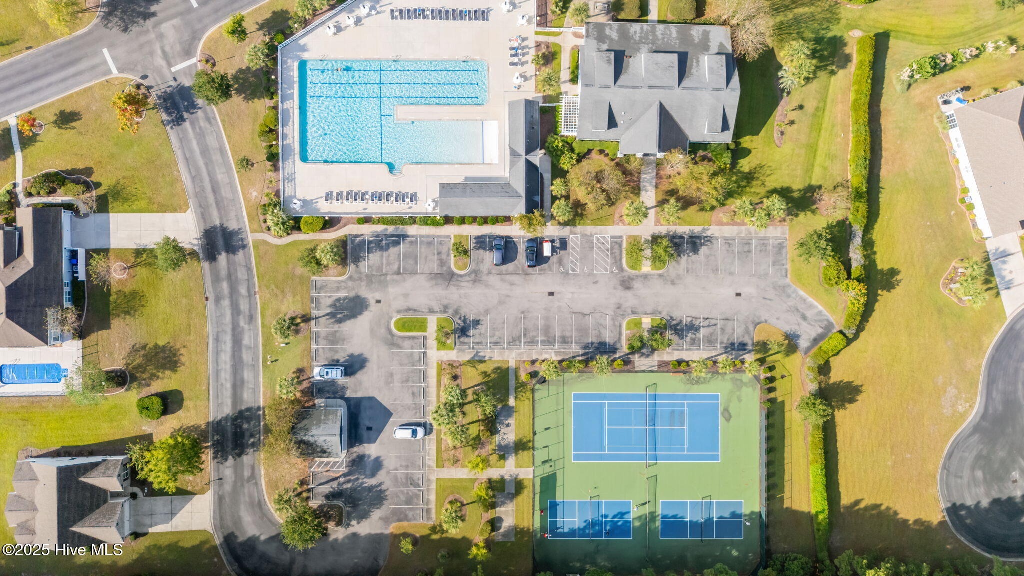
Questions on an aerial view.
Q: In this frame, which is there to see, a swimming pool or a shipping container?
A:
swimming pool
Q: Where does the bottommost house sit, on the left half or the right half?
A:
left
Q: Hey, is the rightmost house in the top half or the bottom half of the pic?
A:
top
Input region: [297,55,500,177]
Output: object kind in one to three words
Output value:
swimming pool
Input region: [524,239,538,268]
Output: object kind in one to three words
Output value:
car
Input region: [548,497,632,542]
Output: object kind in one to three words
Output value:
sports court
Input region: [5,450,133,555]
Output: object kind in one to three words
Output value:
house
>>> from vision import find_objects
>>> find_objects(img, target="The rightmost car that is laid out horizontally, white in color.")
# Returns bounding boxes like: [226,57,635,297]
[393,427,424,442]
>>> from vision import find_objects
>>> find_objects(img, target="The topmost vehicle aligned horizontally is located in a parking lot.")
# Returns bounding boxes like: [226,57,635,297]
[312,367,343,382]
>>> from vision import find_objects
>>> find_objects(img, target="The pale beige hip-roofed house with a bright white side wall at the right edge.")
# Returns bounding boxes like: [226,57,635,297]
[948,86,1024,237]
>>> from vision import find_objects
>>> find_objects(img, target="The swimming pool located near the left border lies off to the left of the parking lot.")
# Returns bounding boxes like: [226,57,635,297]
[0,359,68,384]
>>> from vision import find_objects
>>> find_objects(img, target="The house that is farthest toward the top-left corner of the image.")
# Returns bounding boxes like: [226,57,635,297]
[0,207,75,347]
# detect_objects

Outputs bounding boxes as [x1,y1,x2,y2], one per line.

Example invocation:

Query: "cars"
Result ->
[312,367,343,382]
[492,238,506,266]
[393,427,424,442]
[524,239,538,268]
